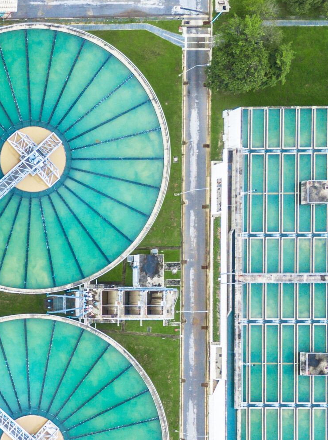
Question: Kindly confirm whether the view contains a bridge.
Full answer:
Yes, there is a bridge in the image.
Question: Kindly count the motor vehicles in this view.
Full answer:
Not a single motor vehicle can be seen.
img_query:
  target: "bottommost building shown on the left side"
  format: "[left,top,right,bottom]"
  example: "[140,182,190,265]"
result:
[73,281,181,327]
